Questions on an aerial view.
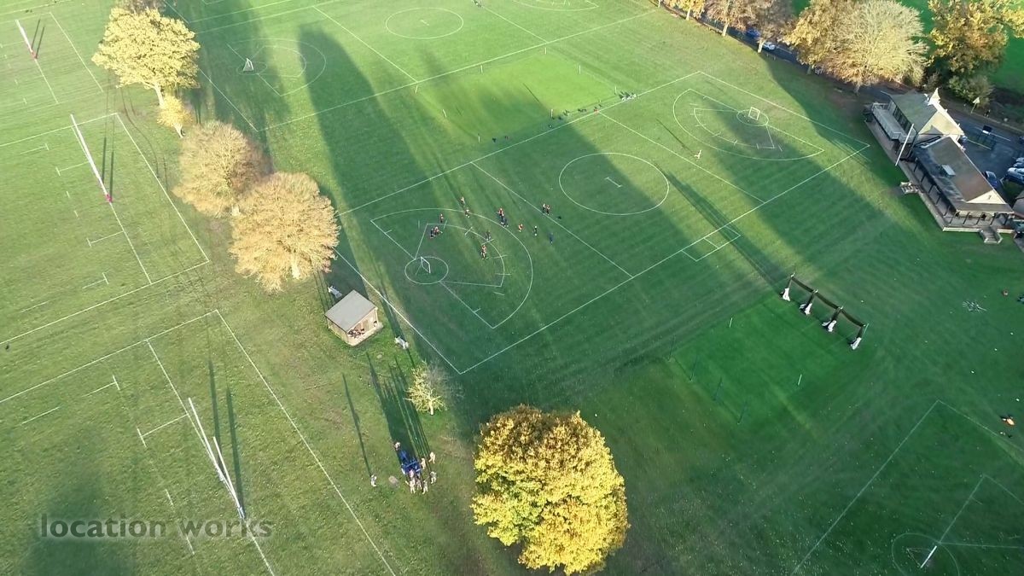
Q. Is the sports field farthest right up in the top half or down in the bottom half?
bottom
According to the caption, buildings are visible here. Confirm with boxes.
[859,82,1018,243]
[321,294,381,347]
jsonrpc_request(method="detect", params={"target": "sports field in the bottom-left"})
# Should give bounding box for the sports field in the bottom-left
[0,306,403,576]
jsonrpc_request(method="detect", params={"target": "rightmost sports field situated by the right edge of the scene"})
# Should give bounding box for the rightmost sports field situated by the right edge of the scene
[696,347,1024,576]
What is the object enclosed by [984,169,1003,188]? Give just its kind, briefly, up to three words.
car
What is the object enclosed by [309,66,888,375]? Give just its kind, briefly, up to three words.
sports field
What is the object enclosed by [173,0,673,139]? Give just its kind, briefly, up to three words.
sports field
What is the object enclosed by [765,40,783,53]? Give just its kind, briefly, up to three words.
vehicle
